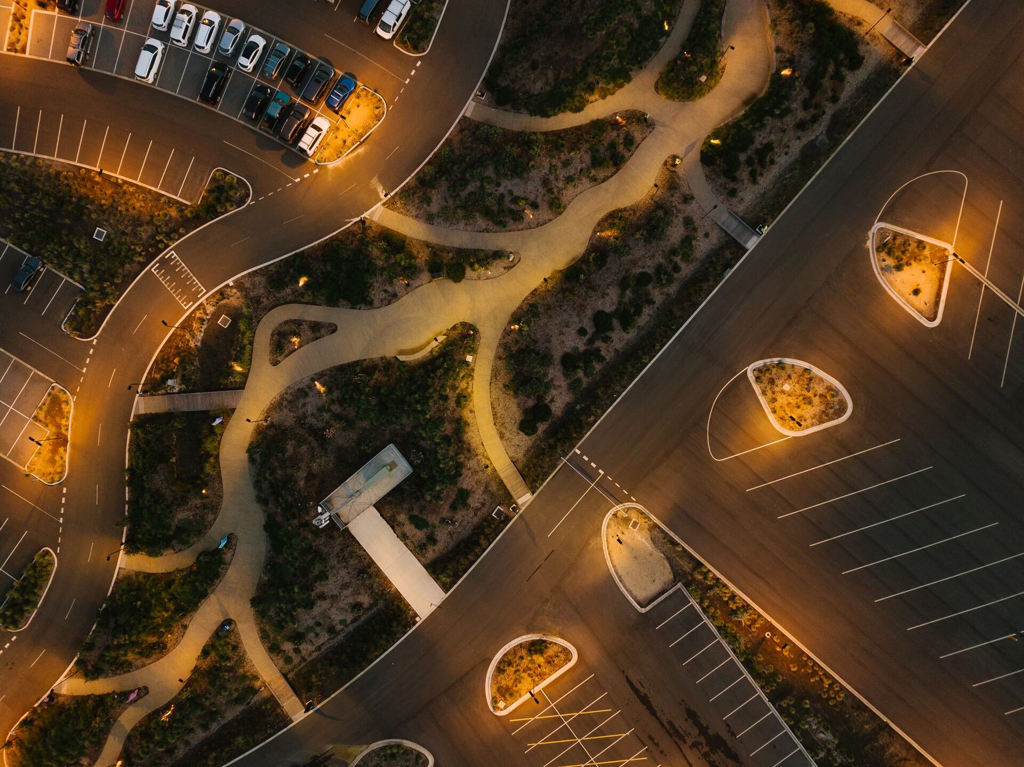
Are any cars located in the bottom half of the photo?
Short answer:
No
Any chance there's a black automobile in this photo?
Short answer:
Yes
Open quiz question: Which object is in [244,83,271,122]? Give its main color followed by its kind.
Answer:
black car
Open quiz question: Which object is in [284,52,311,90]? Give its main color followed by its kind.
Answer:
black car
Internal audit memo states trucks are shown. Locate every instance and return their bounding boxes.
[261,90,291,133]
[66,21,96,68]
